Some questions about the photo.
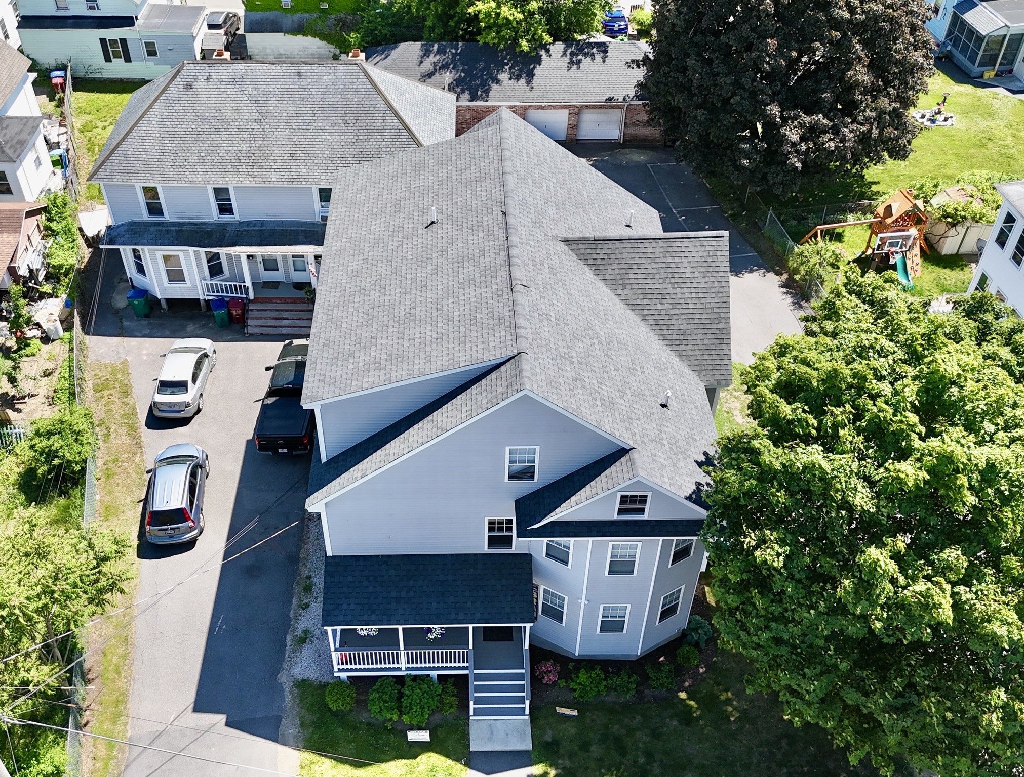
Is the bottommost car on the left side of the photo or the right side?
left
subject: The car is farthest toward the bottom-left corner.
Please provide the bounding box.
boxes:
[146,441,212,542]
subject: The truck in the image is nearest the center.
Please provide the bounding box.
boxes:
[254,339,315,454]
